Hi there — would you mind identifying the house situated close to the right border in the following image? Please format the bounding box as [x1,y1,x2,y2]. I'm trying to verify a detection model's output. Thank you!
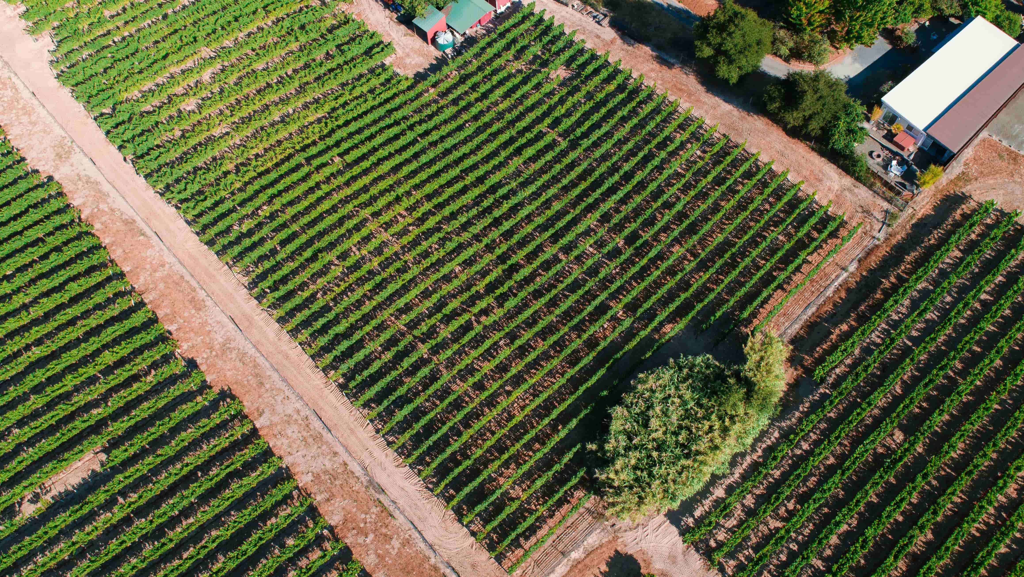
[878,14,1024,159]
